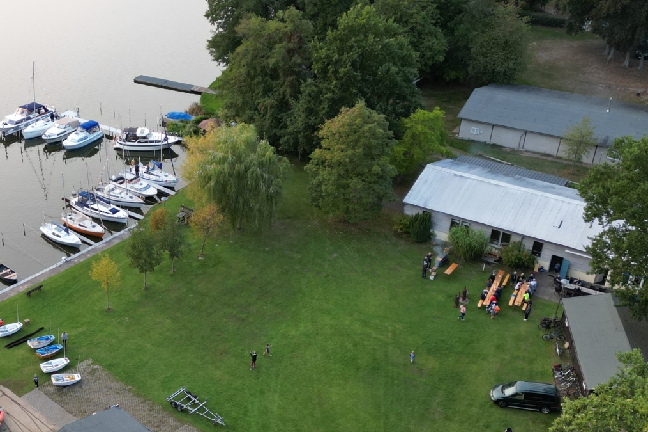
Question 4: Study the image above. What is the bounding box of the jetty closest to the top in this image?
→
[133,74,205,92]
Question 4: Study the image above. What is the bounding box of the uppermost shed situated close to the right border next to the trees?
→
[454,84,648,168]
